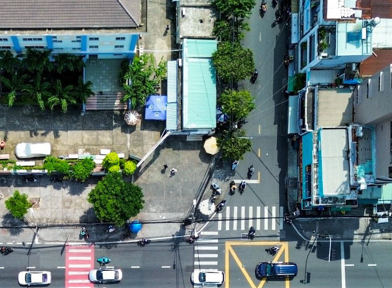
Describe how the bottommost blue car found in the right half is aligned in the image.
from side to side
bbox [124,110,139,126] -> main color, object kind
white umbrella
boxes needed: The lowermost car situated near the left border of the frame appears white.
[19,269,51,287]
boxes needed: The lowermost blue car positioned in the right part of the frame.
[255,261,297,281]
